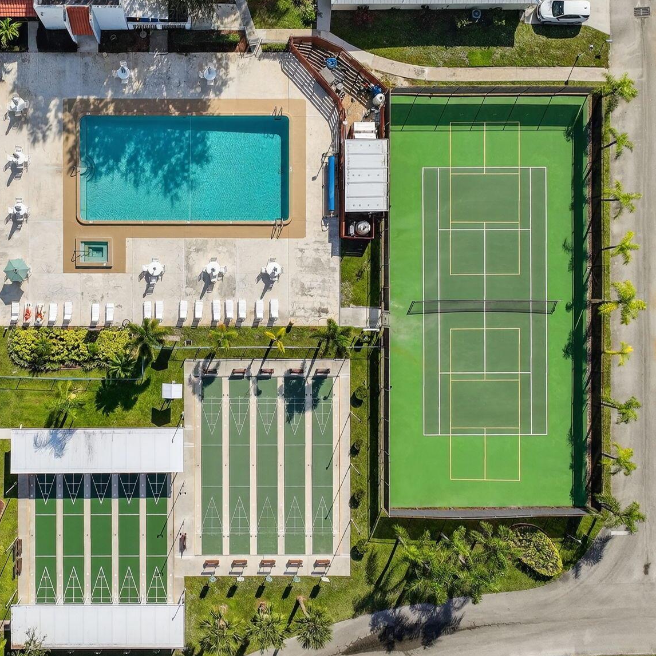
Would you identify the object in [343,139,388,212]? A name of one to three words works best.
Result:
shed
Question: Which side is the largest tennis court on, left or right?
right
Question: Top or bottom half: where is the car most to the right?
top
